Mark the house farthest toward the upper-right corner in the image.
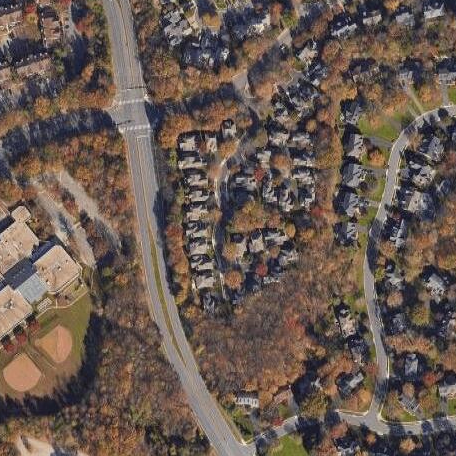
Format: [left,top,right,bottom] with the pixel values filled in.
[424,1,447,18]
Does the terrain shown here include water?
No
